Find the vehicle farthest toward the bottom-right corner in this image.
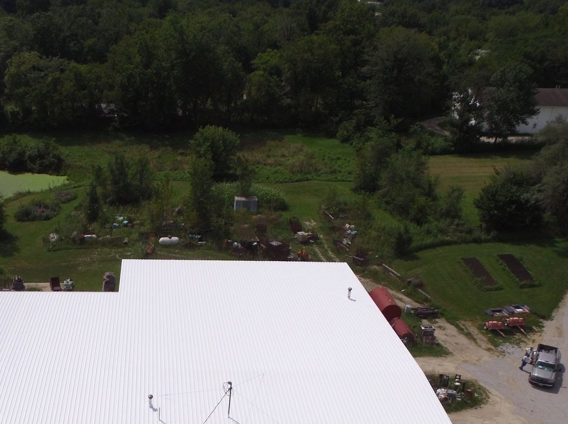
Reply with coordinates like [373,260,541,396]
[523,340,568,384]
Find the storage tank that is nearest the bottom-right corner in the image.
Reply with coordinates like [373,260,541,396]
[389,311,419,346]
